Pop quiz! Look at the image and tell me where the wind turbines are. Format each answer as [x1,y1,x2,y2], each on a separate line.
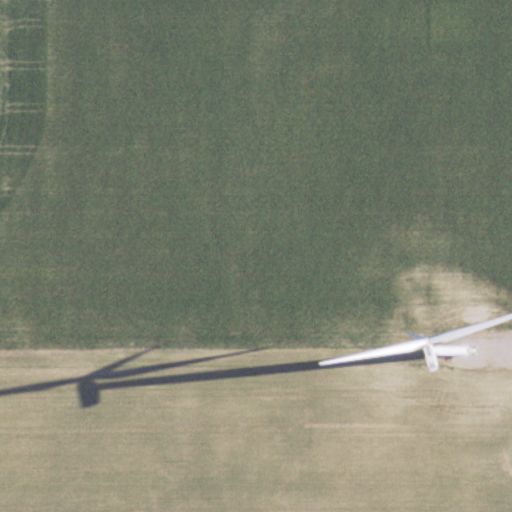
[318,316,512,372]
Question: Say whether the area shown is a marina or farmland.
farmland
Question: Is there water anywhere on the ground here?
No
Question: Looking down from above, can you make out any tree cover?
No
